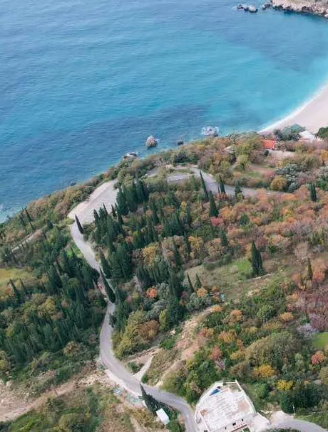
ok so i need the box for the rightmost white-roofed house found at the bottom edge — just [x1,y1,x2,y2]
[199,388,255,432]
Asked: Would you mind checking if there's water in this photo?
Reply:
Yes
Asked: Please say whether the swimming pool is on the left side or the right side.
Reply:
right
